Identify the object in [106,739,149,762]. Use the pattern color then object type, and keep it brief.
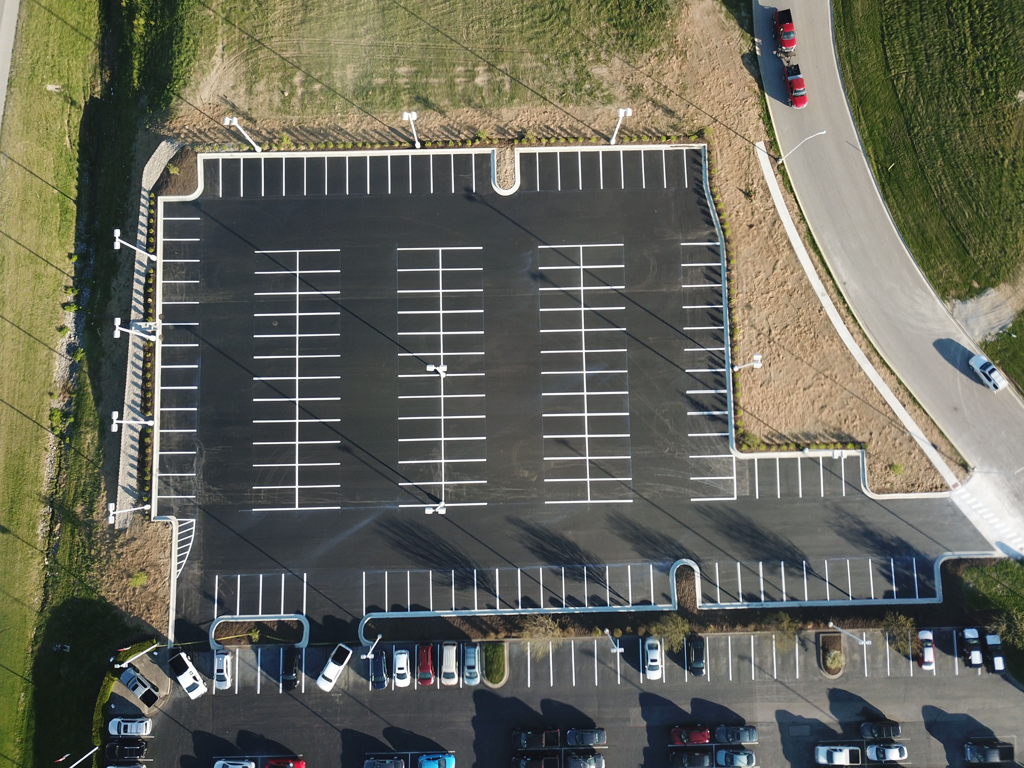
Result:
black car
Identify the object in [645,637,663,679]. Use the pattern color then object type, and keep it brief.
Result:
white car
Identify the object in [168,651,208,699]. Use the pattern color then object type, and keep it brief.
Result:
white truck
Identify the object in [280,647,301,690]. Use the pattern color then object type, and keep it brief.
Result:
black car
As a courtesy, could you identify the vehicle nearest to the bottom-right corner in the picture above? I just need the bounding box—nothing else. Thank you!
[964,741,1014,764]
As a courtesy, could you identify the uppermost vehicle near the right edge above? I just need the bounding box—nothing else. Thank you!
[970,354,1007,394]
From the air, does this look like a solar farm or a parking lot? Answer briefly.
parking lot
